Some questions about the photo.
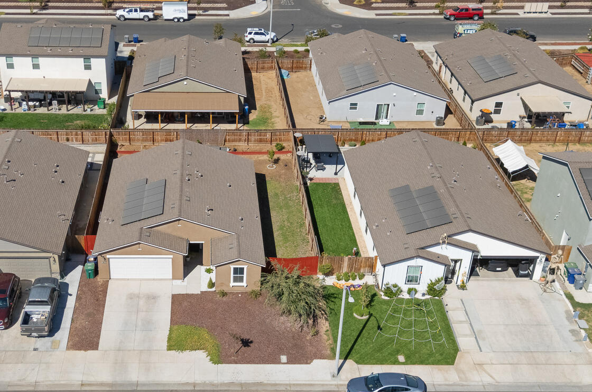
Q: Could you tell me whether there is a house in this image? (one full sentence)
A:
Yes, the image includes a house.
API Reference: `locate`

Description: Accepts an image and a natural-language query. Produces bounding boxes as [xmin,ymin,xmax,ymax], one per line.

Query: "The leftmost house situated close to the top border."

[0,12,116,107]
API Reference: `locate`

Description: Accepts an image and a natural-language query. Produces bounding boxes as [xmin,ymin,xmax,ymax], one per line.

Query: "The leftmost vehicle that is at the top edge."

[115,5,158,22]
